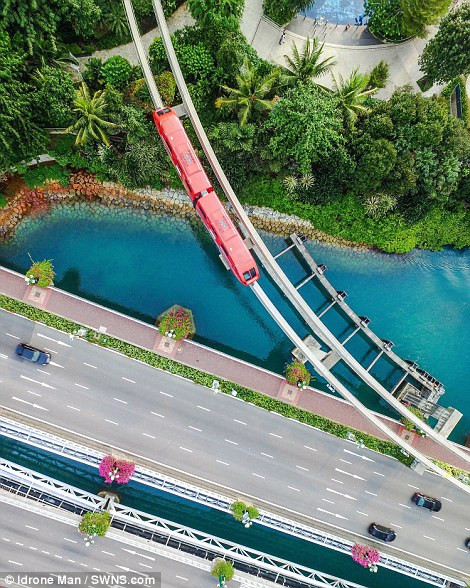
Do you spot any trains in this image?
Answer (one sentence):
Yes, there is a train in the image.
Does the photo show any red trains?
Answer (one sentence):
Yes, the photo shows a red train.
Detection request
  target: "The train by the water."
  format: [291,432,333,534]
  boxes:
[155,107,257,287]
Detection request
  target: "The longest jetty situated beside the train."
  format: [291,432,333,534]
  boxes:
[273,233,448,396]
